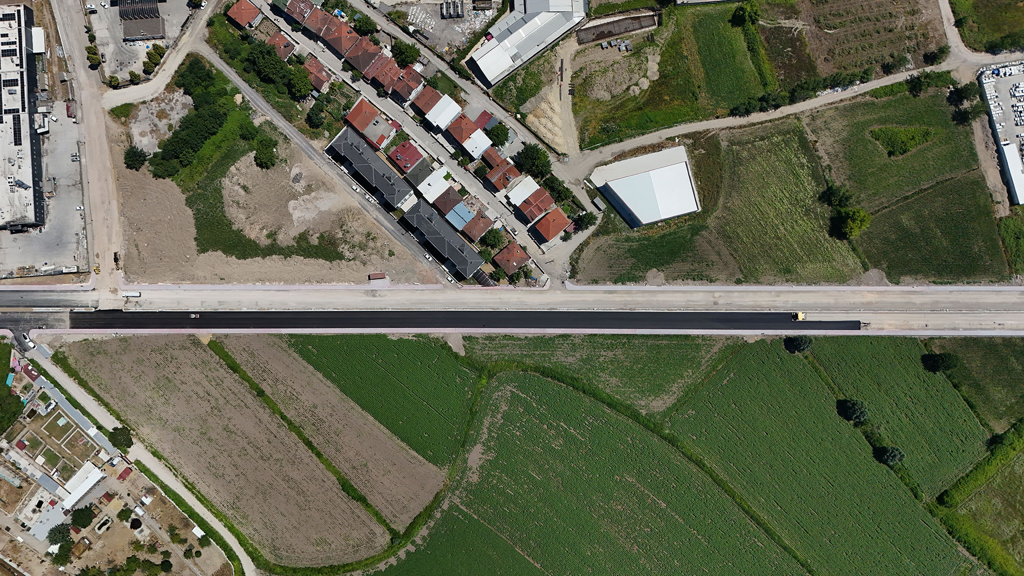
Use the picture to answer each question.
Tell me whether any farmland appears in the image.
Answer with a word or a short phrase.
Yes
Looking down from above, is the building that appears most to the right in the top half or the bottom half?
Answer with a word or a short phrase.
top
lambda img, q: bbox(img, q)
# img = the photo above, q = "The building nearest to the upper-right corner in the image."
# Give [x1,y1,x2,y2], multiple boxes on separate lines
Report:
[996,142,1024,206]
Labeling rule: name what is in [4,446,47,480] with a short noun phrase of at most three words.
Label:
barn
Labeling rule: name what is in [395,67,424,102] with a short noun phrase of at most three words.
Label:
house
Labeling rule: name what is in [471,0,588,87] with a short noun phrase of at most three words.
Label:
building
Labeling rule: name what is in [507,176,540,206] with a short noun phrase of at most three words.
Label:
house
